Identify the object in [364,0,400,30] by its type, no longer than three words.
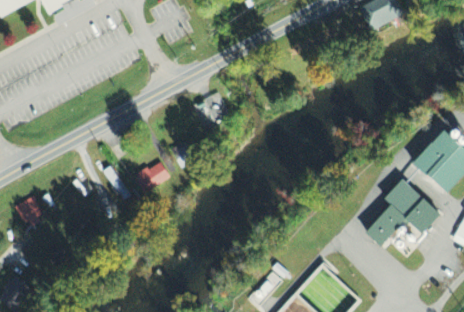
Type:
house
